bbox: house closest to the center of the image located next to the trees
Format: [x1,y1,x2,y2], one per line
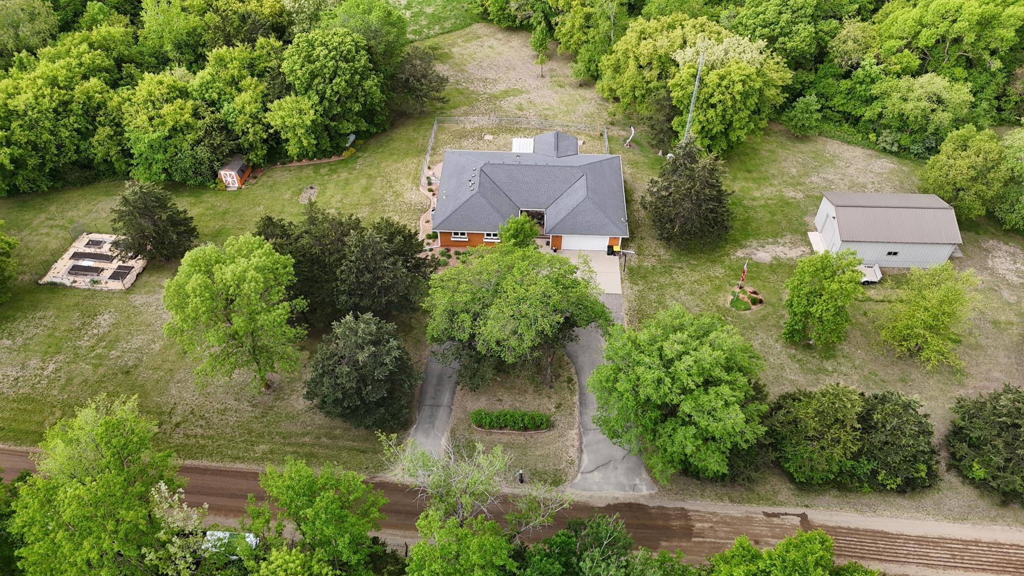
[431,131,635,254]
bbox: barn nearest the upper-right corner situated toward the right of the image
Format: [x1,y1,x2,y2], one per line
[804,191,963,269]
